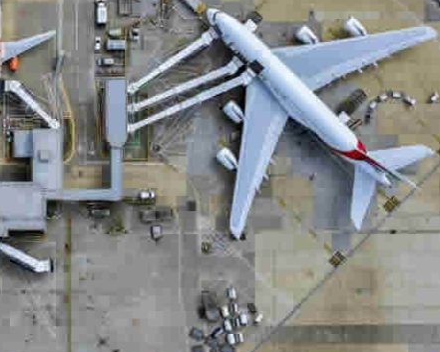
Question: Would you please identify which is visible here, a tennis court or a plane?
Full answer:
Looking from above, you can make out a plane.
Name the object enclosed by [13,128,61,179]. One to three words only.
building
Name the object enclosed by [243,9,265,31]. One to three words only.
truck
